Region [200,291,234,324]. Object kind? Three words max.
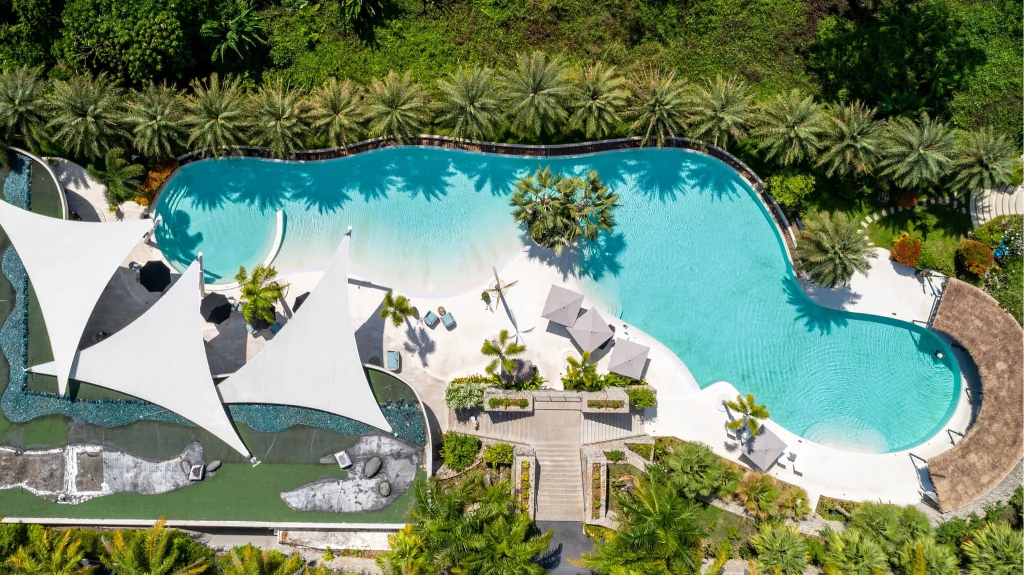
umbrella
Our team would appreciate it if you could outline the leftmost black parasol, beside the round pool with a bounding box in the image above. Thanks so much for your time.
[140,261,174,291]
